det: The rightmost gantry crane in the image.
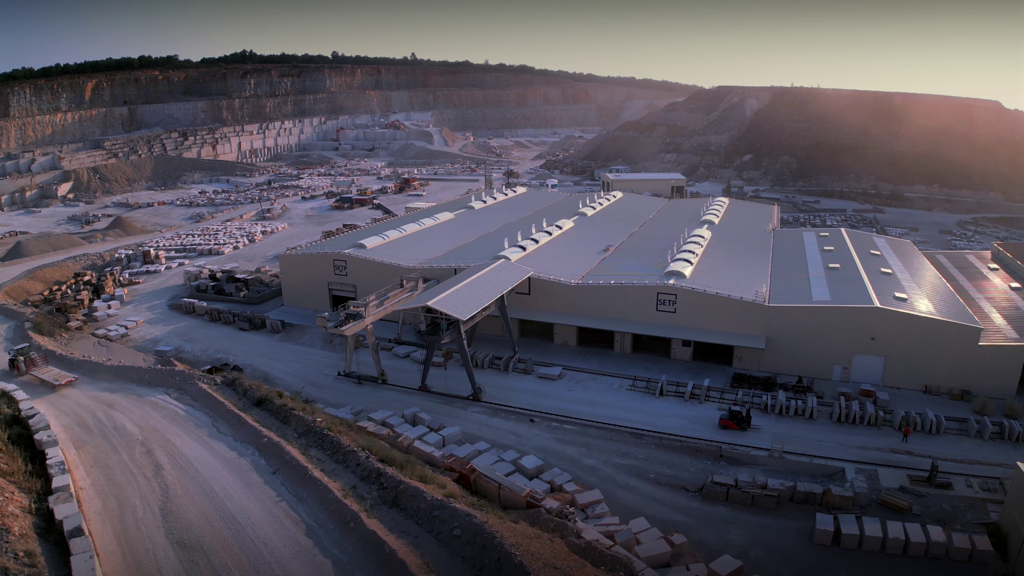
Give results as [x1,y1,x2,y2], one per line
[384,257,531,404]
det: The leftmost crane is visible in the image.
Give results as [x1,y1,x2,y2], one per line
[296,262,452,383]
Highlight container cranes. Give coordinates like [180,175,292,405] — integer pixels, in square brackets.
[296,262,452,383]
[384,257,531,404]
